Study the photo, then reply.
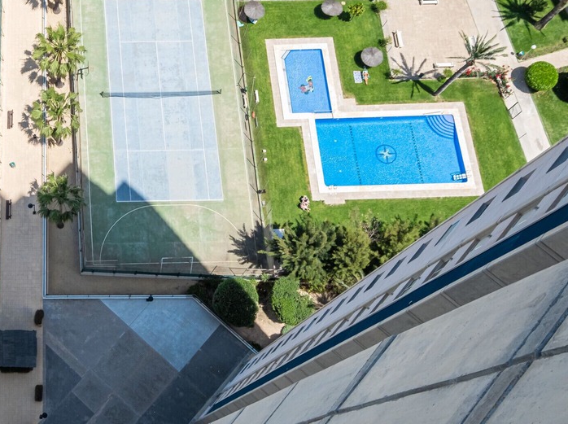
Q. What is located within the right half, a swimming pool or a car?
swimming pool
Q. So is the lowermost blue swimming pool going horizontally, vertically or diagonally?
horizontally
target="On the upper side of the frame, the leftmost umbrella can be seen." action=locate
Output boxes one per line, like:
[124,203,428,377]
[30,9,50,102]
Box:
[240,1,264,21]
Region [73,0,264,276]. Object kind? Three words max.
sports court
